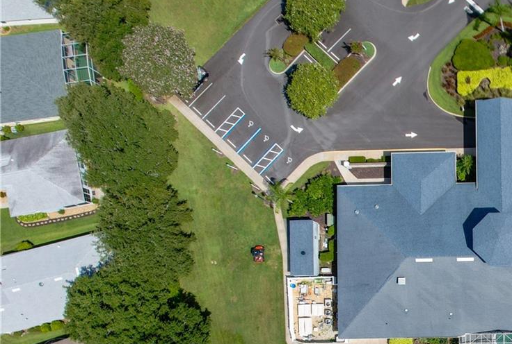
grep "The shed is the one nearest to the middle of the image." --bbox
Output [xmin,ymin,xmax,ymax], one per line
[289,219,322,276]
